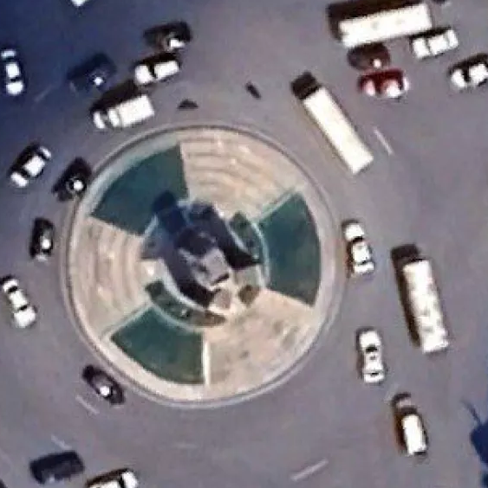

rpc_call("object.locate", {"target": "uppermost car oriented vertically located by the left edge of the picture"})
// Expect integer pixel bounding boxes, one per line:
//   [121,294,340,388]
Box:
[0,50,23,95]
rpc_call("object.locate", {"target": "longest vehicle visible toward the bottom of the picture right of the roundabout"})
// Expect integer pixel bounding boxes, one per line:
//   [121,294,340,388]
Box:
[400,255,447,349]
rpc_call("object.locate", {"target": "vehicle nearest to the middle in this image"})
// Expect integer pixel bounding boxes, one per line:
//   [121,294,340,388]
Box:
[343,221,374,274]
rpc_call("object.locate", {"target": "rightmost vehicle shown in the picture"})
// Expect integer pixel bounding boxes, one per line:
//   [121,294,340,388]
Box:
[449,55,488,86]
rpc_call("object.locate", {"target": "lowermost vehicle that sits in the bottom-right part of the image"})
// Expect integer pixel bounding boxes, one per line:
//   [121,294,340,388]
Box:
[396,399,430,456]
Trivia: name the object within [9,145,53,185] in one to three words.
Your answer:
car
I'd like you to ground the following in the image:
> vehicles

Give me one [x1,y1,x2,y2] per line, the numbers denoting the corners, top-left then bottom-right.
[396,399,430,456]
[298,85,370,171]
[0,276,38,328]
[31,220,53,260]
[55,160,92,200]
[449,55,488,86]
[82,365,125,405]
[146,24,190,49]
[87,471,136,488]
[334,1,430,47]
[92,90,155,123]
[68,57,114,84]
[9,145,53,185]
[348,45,391,69]
[0,50,23,95]
[134,55,181,84]
[343,221,374,274]
[31,451,83,483]
[400,255,447,349]
[357,331,385,382]
[410,29,458,55]
[361,74,406,94]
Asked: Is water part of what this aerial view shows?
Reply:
No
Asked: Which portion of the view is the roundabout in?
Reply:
center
